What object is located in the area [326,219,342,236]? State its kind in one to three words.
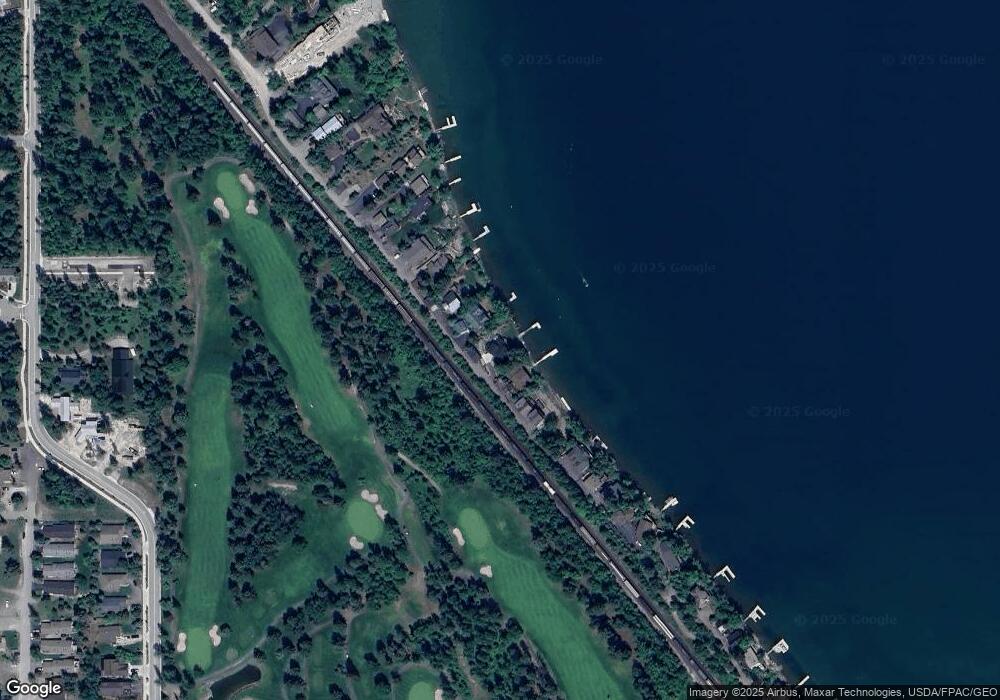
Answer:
rail car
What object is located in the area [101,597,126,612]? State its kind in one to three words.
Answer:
house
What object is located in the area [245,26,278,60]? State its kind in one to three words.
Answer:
house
